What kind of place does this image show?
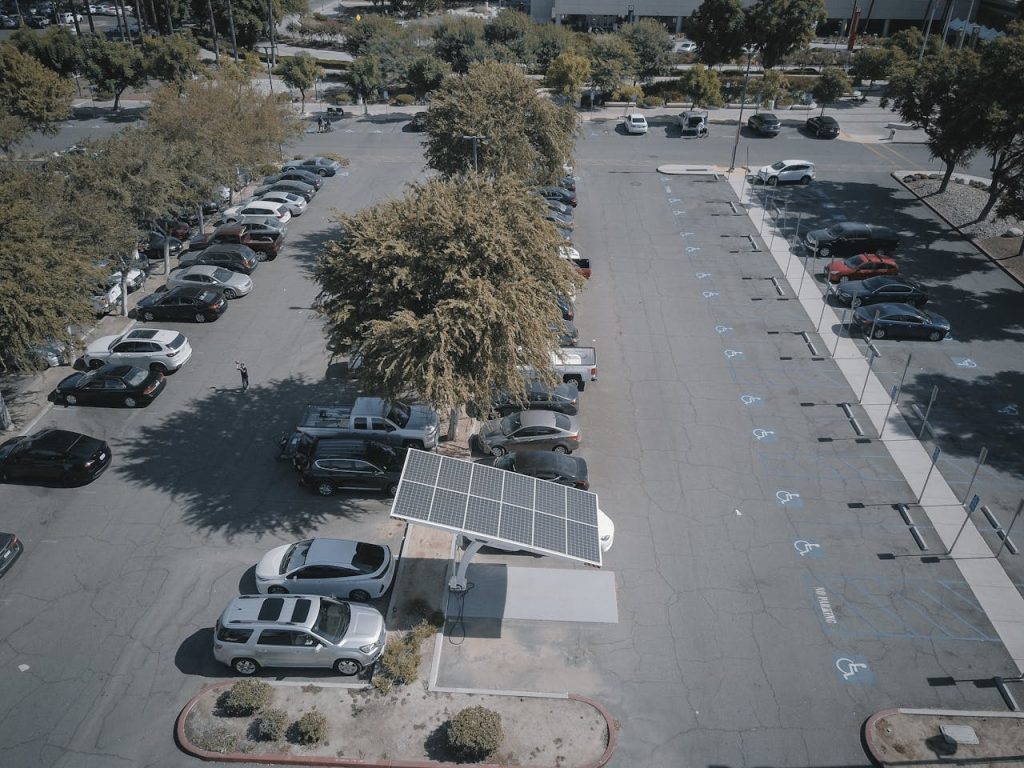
parking lot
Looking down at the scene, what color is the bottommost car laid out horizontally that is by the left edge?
black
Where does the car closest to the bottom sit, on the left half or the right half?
left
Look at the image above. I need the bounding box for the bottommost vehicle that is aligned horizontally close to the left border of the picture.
[0,432,110,485]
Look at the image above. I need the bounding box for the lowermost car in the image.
[212,591,387,677]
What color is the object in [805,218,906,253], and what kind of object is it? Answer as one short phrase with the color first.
black truck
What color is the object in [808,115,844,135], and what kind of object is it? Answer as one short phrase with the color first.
black car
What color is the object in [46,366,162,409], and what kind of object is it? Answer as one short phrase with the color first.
black car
